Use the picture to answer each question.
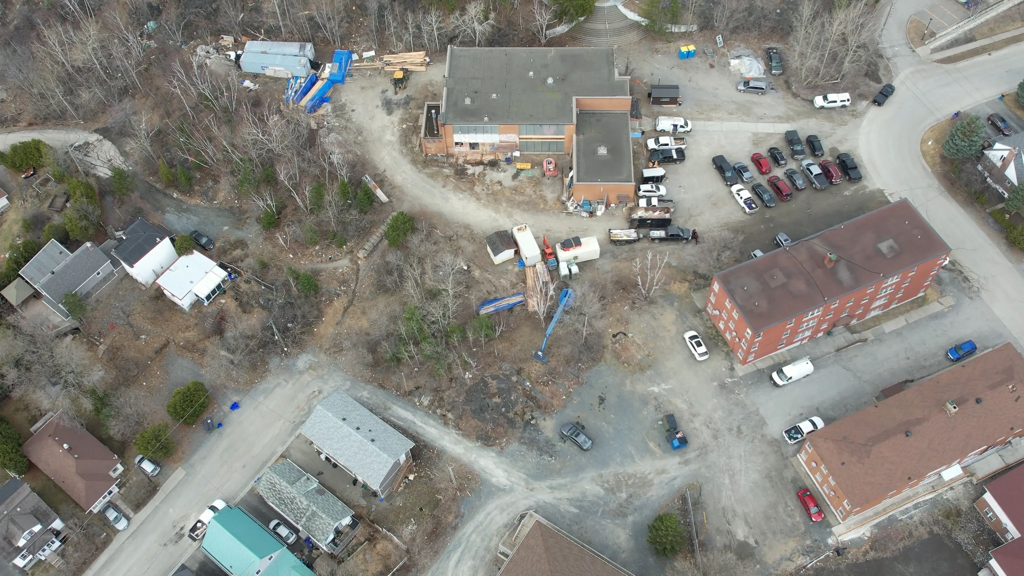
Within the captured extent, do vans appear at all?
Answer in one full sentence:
Yes, I can see a van in this picture.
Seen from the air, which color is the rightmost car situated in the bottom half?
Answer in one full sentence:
The rightmost car situated in the bottom half looks blue in the image.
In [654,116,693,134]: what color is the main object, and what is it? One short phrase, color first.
white vehicle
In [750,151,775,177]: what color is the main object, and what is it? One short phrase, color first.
red car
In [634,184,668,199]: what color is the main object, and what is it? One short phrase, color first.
white car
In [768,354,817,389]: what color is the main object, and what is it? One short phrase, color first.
white van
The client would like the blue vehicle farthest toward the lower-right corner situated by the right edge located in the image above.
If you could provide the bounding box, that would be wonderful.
[941,338,982,364]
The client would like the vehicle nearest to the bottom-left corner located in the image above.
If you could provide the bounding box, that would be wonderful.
[98,500,133,536]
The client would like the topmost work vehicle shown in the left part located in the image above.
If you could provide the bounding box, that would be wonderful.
[390,67,409,91]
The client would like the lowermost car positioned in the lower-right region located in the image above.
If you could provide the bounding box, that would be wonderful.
[794,484,827,528]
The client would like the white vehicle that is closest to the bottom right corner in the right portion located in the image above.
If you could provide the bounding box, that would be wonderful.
[778,413,830,445]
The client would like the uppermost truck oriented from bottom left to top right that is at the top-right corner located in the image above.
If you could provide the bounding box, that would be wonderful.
[870,81,897,110]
